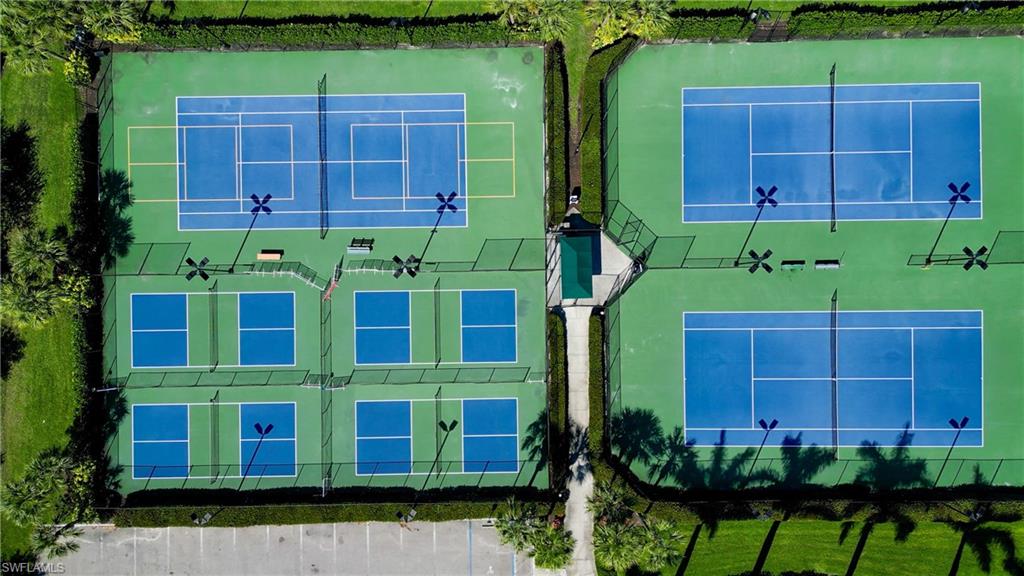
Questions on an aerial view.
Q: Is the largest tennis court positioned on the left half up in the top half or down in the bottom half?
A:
top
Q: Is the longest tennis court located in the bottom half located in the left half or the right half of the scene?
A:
right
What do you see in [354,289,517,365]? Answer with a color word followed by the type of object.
blue sports court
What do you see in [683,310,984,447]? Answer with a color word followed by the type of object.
blue tennis court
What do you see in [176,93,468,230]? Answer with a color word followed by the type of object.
blue tennis court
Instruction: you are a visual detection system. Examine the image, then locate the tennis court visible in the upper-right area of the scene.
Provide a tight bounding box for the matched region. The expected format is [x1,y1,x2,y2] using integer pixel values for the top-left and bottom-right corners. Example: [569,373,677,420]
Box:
[682,82,982,223]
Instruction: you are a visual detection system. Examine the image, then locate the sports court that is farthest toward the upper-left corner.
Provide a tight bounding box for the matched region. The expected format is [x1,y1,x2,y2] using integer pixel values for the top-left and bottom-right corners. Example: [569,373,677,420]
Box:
[128,125,293,202]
